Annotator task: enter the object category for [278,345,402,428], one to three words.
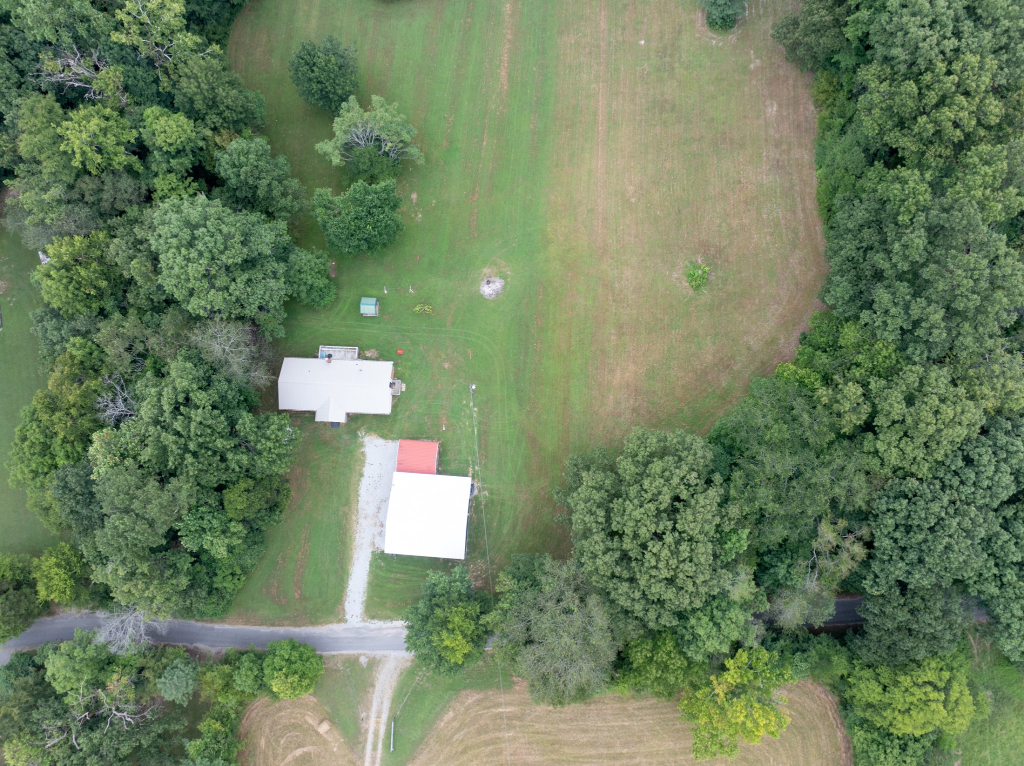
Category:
house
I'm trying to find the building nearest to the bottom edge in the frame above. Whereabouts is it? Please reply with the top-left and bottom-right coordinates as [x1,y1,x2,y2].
[386,472,472,559]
